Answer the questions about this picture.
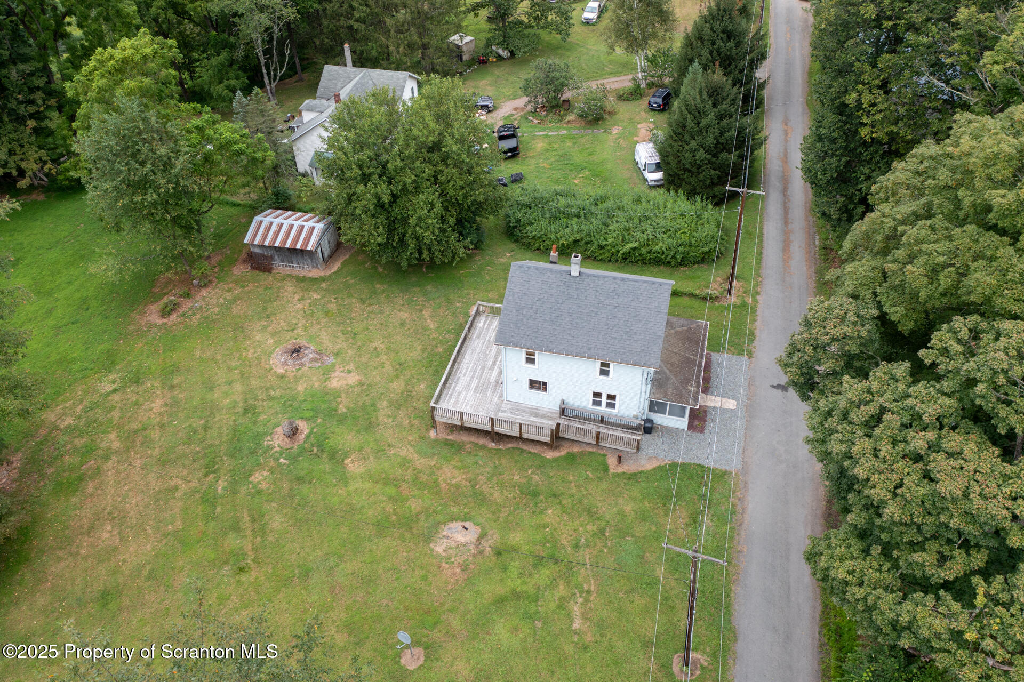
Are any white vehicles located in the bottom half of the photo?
No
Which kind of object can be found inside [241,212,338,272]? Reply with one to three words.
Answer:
shed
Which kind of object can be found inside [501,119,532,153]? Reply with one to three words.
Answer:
truck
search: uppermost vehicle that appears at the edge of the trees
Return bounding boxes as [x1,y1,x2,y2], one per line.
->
[584,0,606,20]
